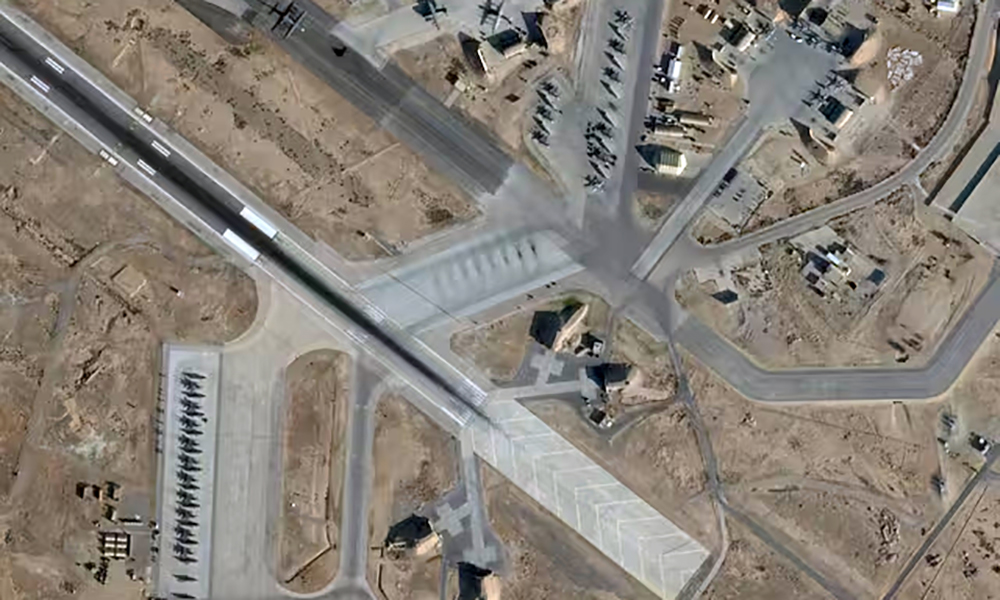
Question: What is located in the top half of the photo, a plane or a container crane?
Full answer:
You can see a plane in the top half of the photo.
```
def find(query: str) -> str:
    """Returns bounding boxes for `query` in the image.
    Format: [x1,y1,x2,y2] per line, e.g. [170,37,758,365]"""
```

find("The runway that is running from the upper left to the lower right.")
[0,0,709,600]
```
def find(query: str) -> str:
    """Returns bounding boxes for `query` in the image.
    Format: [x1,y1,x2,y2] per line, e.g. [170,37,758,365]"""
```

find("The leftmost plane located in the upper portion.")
[283,11,307,37]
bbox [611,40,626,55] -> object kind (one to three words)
airplane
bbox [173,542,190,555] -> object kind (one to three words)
airplane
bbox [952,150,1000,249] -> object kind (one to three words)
building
